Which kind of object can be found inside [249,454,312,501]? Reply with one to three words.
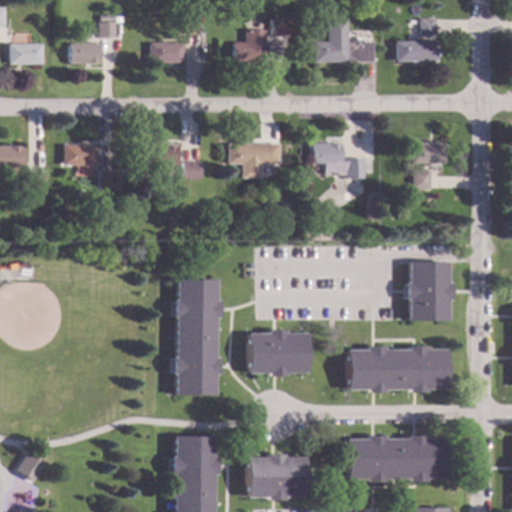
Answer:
building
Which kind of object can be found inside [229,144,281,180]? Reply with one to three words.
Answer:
house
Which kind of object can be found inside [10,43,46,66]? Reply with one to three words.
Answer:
house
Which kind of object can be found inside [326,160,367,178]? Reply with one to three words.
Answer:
building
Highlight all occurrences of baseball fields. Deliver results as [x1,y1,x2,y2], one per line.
[0,263,158,438]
